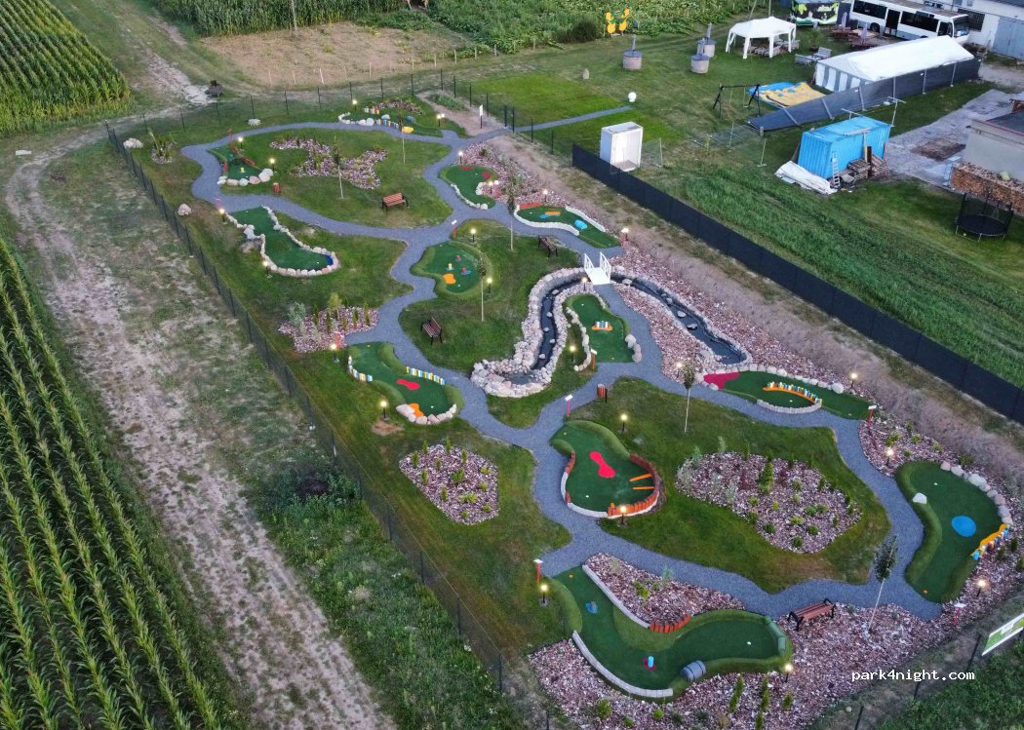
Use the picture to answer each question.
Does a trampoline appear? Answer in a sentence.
Yes, there is a trampoline in the image.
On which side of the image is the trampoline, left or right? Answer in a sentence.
You can find the trampoline on the right side of the picture.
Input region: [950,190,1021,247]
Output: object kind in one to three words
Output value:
trampoline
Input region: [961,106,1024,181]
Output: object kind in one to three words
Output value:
shed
